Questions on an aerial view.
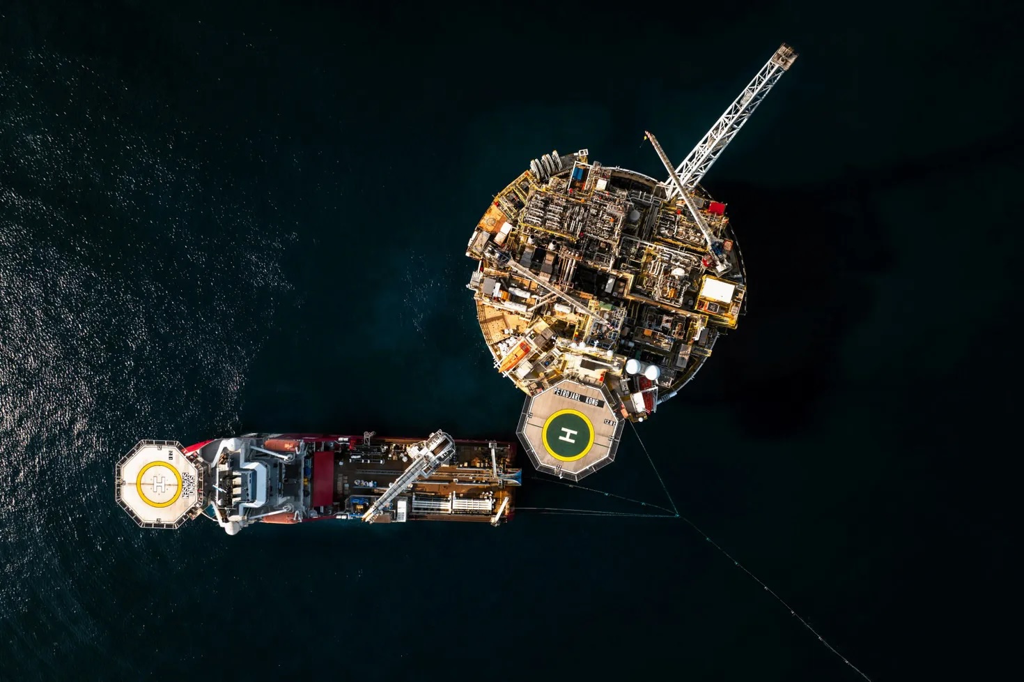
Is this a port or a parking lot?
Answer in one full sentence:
This looks like a port.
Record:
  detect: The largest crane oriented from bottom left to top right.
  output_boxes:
[357,429,456,529]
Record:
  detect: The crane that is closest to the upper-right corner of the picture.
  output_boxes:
[641,131,741,284]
